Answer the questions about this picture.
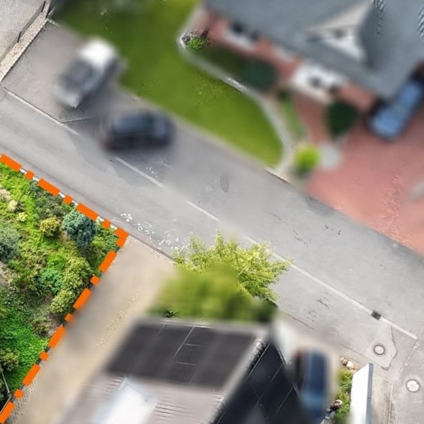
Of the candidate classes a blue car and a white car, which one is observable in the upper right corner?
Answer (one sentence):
Visible in the upper right corner is a blue car.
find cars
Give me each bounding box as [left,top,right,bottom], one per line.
[59,37,123,107]
[98,109,174,152]
[287,341,341,423]
[368,74,424,137]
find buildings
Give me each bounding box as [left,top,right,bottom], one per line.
[64,317,314,424]
[187,0,424,115]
